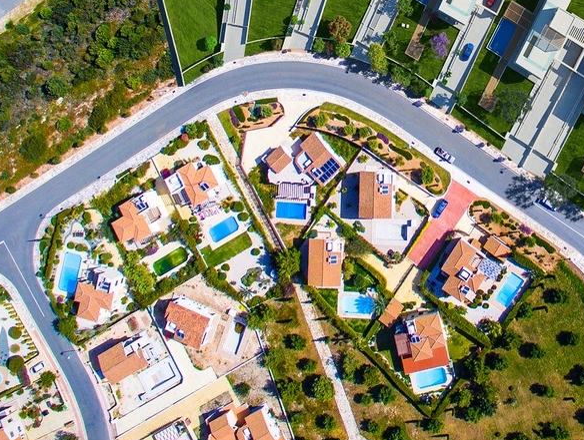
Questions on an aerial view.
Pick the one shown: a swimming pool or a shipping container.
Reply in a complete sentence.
Visible in the photo is a swimming pool.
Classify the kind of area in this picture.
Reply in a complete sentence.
This looks like a residential area.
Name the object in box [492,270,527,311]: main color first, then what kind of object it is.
blue swimming pool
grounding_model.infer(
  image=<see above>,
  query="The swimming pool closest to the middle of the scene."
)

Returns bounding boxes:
[274,200,308,221]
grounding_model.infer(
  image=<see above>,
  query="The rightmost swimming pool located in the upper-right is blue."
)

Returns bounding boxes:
[485,16,519,56]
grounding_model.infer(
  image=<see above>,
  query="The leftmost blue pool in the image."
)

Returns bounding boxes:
[56,250,83,295]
